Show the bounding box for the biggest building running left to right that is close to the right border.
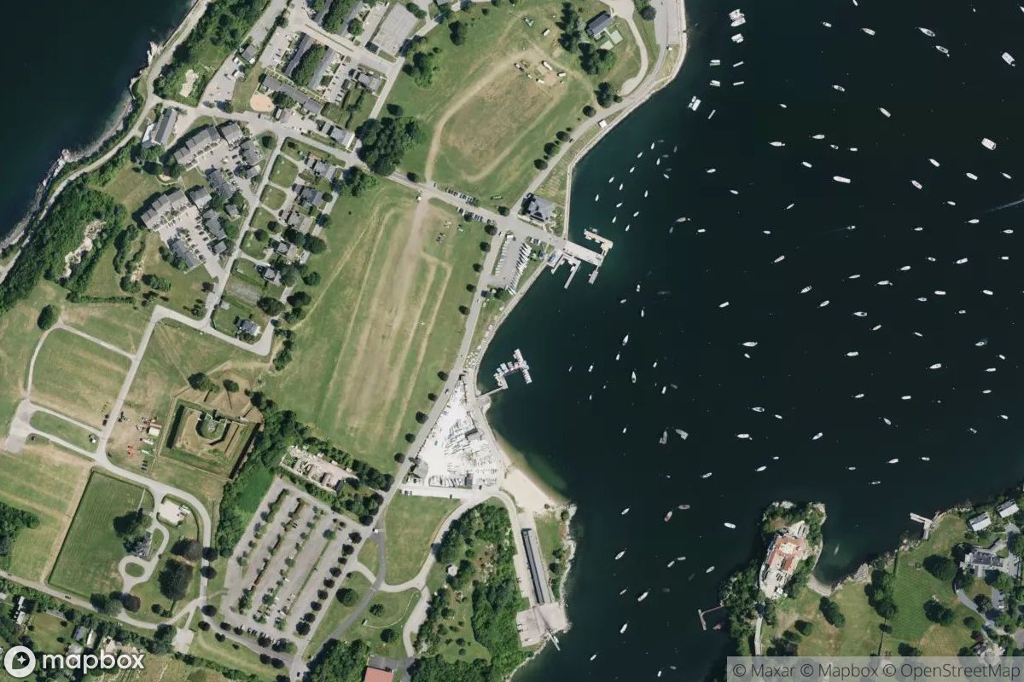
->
[967,551,1010,570]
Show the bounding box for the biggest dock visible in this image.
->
[562,240,605,266]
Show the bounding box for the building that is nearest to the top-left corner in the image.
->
[141,107,179,147]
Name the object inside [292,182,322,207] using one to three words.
house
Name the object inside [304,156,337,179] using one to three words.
house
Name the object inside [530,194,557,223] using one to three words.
building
